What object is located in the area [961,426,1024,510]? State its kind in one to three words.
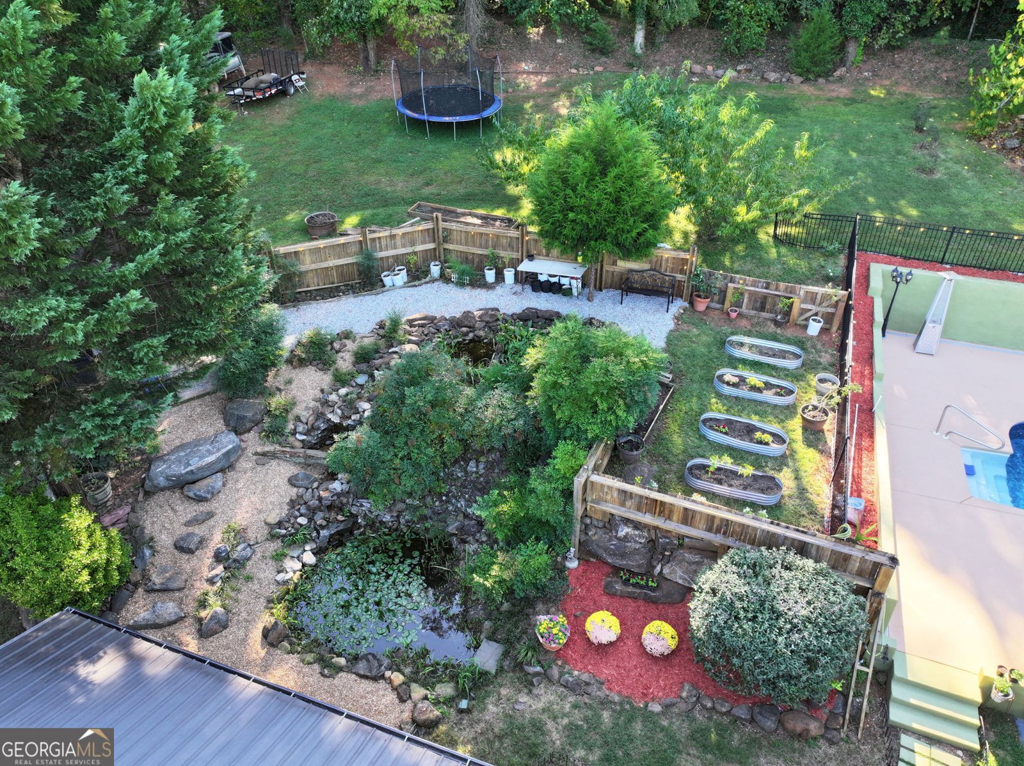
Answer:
swimming pool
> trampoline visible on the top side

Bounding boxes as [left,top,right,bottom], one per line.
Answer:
[391,42,504,142]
